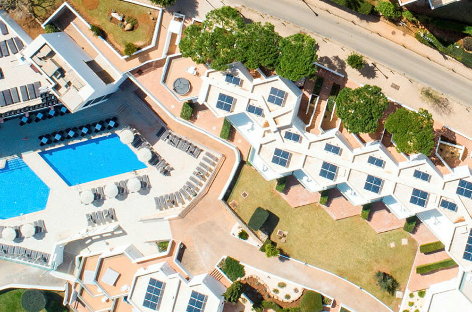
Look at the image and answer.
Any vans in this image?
No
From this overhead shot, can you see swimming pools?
Yes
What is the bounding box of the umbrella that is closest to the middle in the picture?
[136,146,154,163]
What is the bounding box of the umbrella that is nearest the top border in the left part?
[118,128,136,145]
